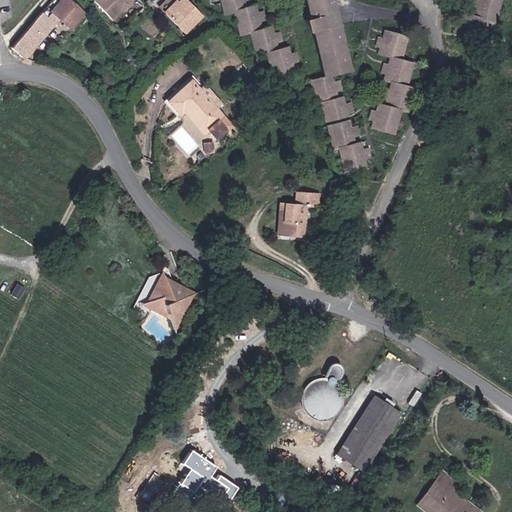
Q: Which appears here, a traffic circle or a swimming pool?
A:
swimming pool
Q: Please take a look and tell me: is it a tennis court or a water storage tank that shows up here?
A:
water storage tank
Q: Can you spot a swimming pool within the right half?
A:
No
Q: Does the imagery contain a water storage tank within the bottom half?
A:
Yes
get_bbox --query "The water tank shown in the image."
[296,364,344,430]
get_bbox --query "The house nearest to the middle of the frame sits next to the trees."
[278,192,320,239]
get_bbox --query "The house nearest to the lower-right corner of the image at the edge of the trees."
[416,471,483,512]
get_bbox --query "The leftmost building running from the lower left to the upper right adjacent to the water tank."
[338,396,401,472]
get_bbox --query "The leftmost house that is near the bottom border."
[180,450,239,500]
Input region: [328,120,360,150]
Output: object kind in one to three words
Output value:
house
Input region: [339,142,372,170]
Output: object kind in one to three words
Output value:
house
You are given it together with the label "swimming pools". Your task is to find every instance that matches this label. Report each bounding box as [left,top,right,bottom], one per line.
[141,310,172,344]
